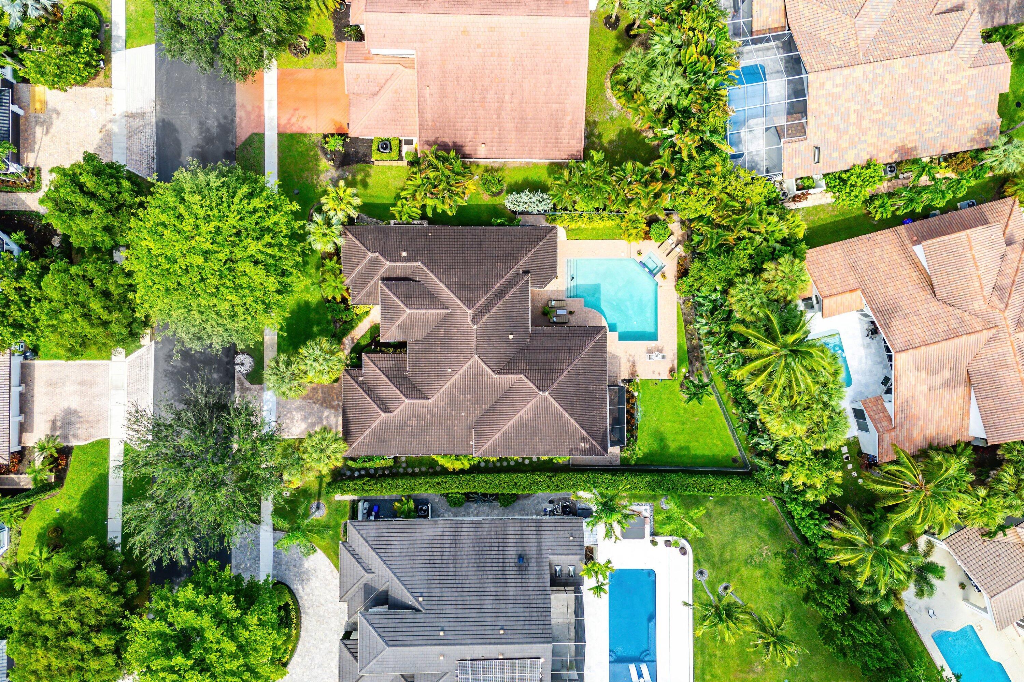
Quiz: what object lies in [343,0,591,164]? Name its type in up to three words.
house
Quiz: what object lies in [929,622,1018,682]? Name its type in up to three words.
swimming pool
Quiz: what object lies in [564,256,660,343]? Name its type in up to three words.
swimming pool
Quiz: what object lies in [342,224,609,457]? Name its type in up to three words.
house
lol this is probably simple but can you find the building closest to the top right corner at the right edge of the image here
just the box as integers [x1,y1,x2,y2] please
[746,0,1014,181]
